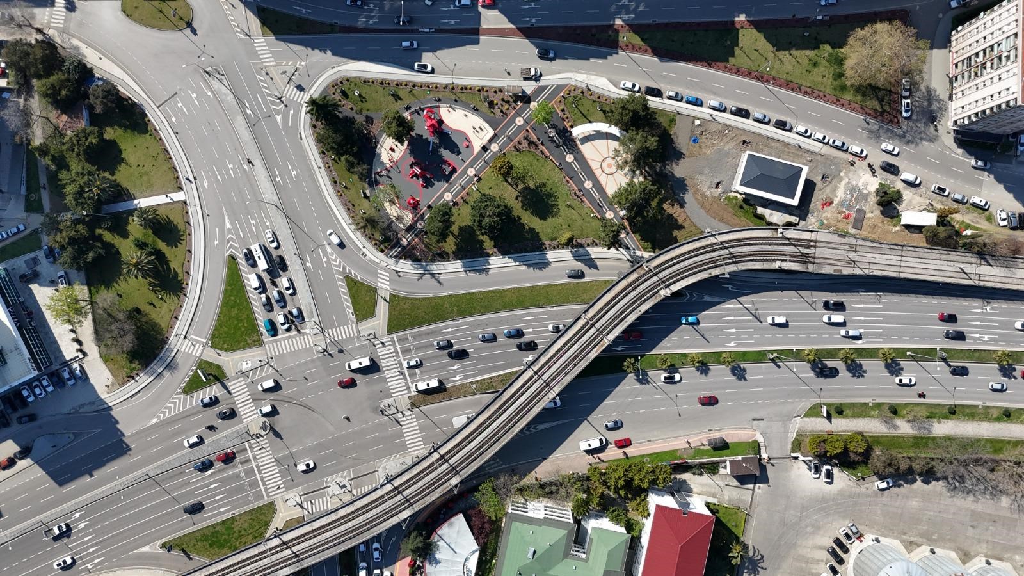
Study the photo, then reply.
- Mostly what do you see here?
paved ground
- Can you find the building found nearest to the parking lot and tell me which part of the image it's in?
left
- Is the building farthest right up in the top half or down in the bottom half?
top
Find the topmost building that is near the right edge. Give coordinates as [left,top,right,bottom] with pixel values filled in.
[949,0,1024,152]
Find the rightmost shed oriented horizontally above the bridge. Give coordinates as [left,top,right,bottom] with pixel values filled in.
[896,212,937,225]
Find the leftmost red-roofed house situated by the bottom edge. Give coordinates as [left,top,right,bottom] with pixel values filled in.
[633,485,716,576]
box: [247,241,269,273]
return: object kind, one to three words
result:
vehicle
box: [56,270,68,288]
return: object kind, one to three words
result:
vehicle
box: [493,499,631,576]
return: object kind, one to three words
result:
building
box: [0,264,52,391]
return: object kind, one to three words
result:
building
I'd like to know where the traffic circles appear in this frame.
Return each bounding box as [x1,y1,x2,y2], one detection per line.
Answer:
[121,0,193,31]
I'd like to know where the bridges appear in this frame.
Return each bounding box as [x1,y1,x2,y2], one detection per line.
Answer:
[178,228,1024,576]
